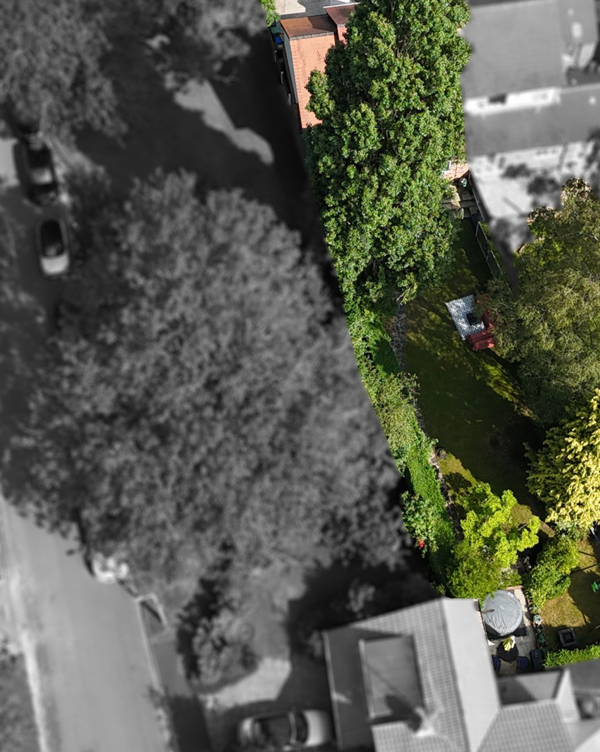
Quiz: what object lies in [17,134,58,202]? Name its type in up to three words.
car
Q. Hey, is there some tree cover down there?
Yes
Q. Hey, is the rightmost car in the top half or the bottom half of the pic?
bottom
